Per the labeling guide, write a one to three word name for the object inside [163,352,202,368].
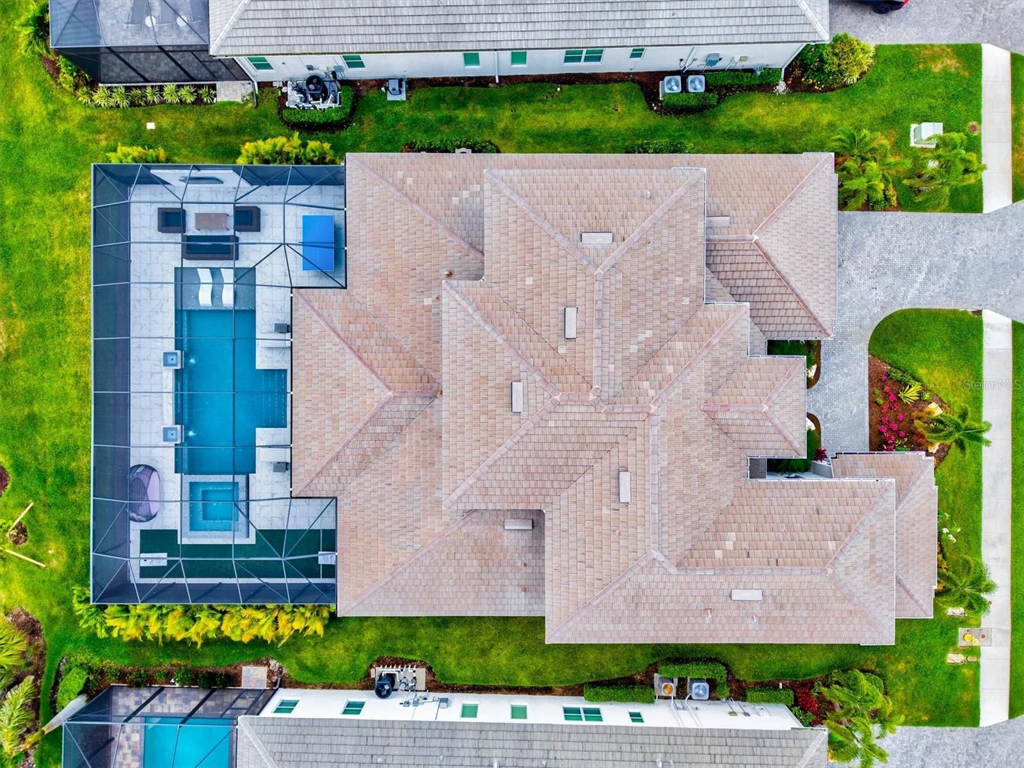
fountain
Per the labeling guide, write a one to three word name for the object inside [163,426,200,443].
fountain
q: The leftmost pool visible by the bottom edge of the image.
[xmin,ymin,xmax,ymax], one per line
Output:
[144,717,234,768]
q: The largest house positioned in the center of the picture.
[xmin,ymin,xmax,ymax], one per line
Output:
[290,151,939,646]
